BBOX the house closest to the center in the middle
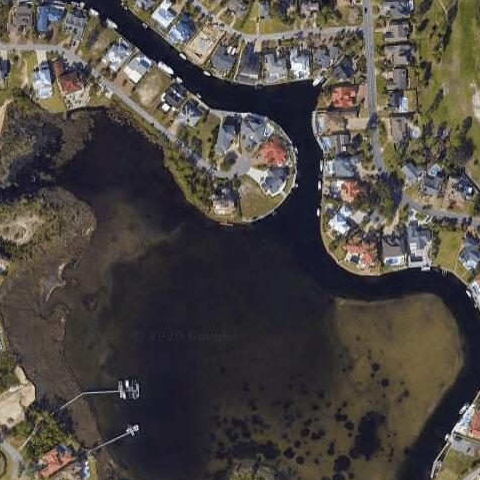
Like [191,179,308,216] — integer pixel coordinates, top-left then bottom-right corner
[214,189,234,209]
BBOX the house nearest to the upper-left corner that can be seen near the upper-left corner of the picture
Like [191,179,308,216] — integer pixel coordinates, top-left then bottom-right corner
[13,4,34,28]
